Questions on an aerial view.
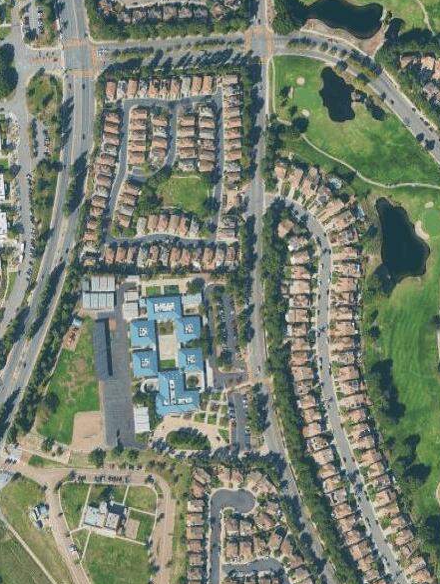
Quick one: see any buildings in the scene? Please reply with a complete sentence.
Yes, a building appears in the view.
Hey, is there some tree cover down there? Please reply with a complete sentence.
Yes, there's tree cover in this view.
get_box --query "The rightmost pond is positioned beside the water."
[379,199,428,291]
